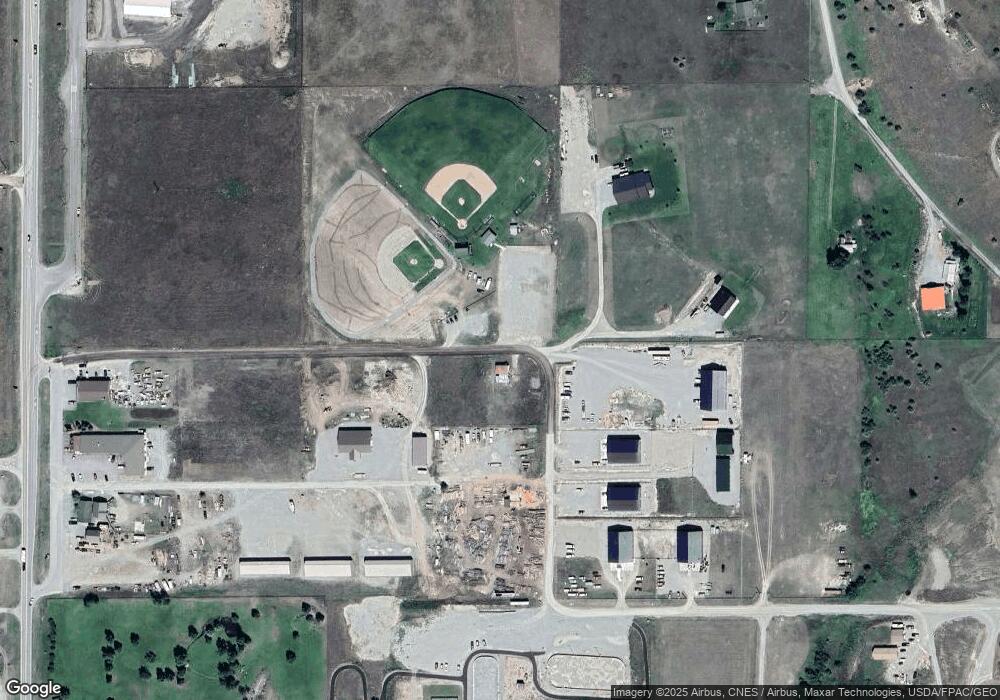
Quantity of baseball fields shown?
2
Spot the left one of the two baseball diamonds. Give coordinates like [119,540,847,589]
[310,171,457,335]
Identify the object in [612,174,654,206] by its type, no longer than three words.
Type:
building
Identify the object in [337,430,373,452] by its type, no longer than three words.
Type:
building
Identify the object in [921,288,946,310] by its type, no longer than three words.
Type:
barn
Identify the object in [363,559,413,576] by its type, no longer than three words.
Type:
shed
